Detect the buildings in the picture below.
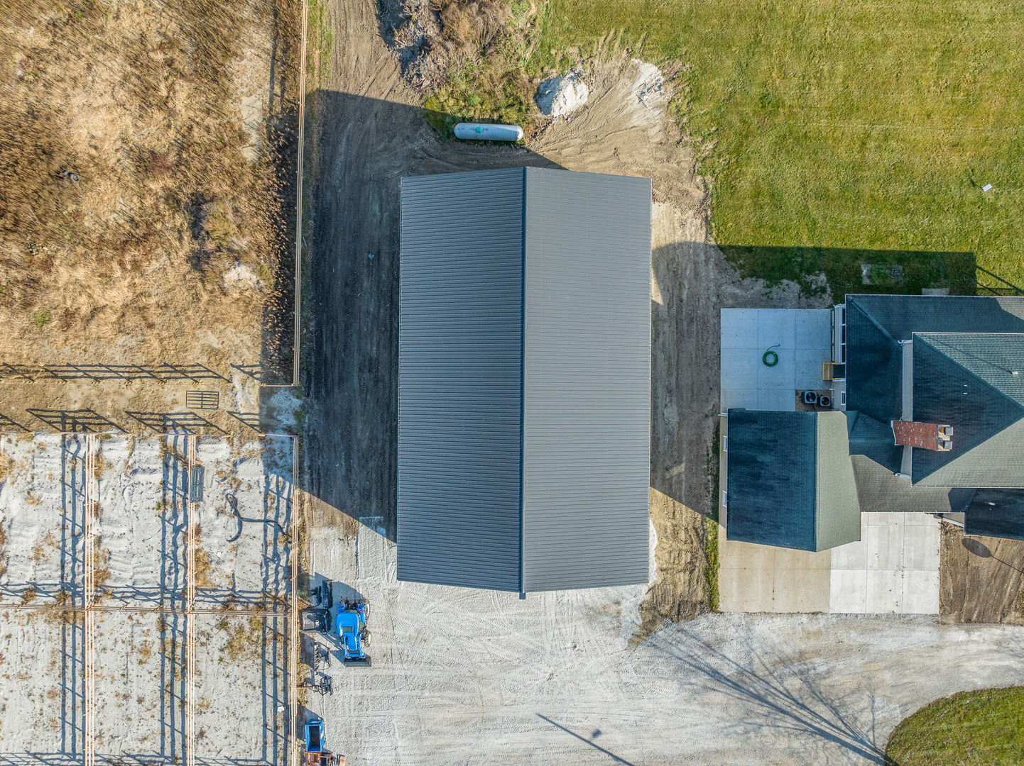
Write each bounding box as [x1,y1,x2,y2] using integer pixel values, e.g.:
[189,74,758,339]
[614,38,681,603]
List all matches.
[714,292,1024,554]
[396,167,653,600]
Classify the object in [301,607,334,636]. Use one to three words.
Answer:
vehicle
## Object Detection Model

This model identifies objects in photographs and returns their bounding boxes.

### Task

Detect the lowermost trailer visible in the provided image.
[303,714,327,755]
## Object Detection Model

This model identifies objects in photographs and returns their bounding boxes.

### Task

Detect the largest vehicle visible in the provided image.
[334,597,371,664]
